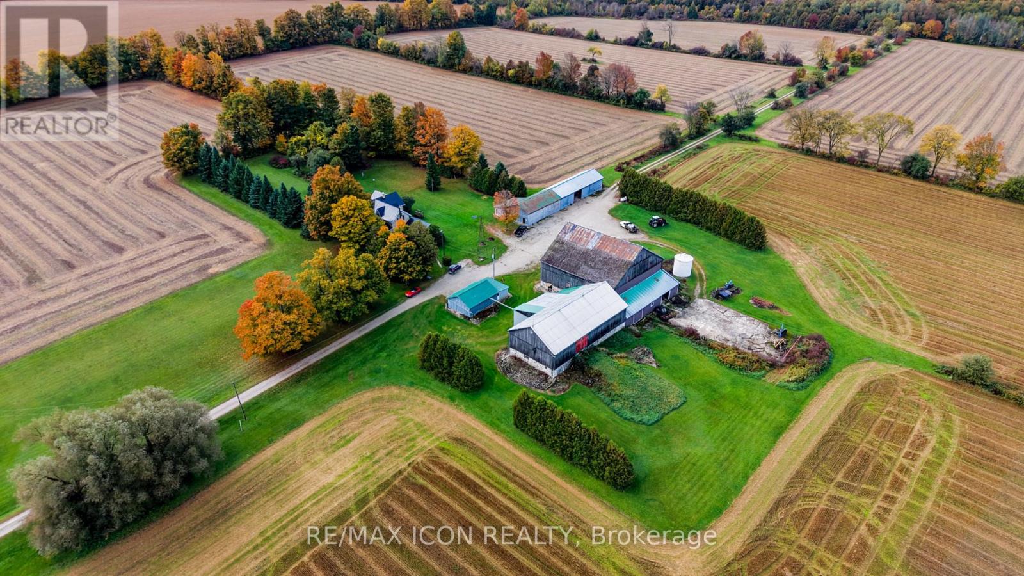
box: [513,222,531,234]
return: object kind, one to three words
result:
vehicle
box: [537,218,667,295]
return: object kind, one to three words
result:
barn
